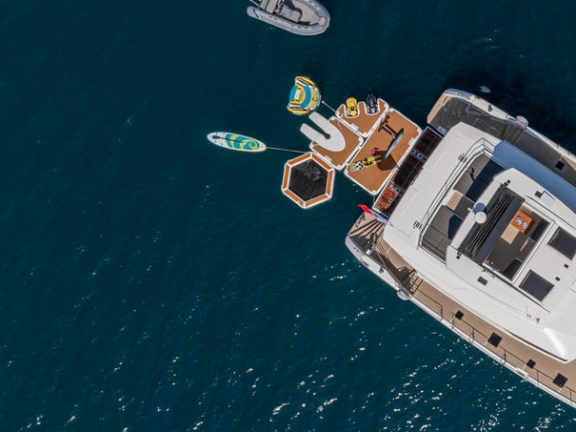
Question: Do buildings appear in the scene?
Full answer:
No, the picture doesn't show any building.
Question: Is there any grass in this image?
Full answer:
No, the picture contains no grass.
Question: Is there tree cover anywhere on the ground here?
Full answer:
No, the picture contains no tree cover.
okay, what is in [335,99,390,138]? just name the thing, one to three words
pier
